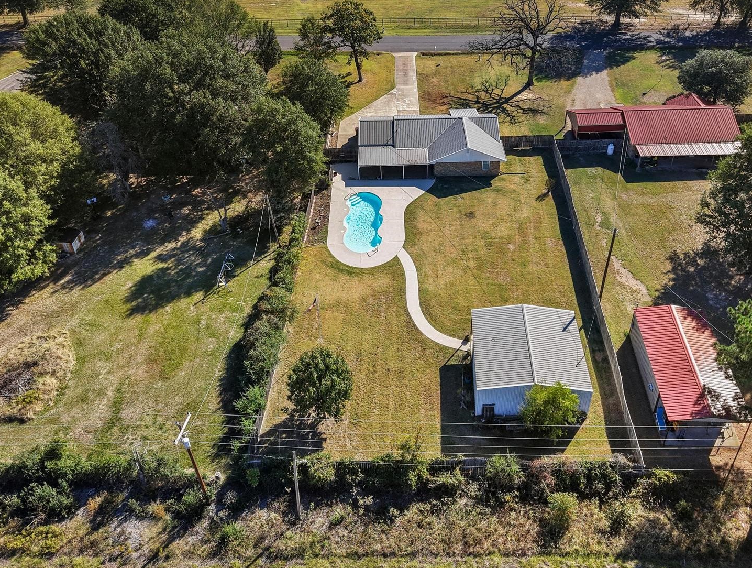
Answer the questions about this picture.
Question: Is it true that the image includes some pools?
Yes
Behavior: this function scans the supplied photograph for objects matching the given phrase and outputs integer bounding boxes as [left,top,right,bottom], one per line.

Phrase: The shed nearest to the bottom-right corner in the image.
[628,304,752,447]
